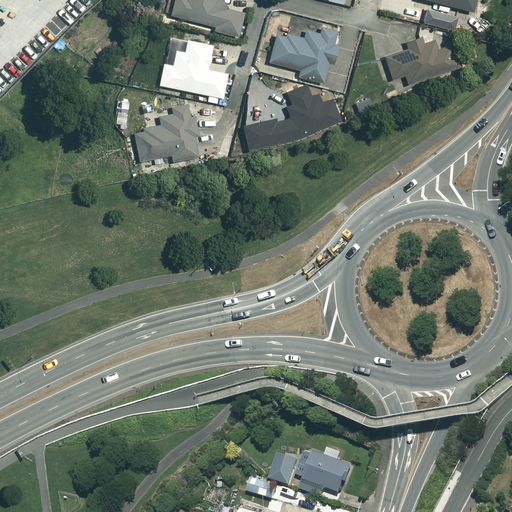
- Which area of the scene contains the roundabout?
right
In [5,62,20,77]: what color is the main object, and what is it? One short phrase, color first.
red car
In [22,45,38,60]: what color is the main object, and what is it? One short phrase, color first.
white car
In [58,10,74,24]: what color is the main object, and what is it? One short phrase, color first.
white car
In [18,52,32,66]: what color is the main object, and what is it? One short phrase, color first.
red vehicle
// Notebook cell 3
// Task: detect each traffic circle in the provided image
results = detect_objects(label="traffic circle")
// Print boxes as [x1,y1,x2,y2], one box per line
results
[338,201,512,379]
